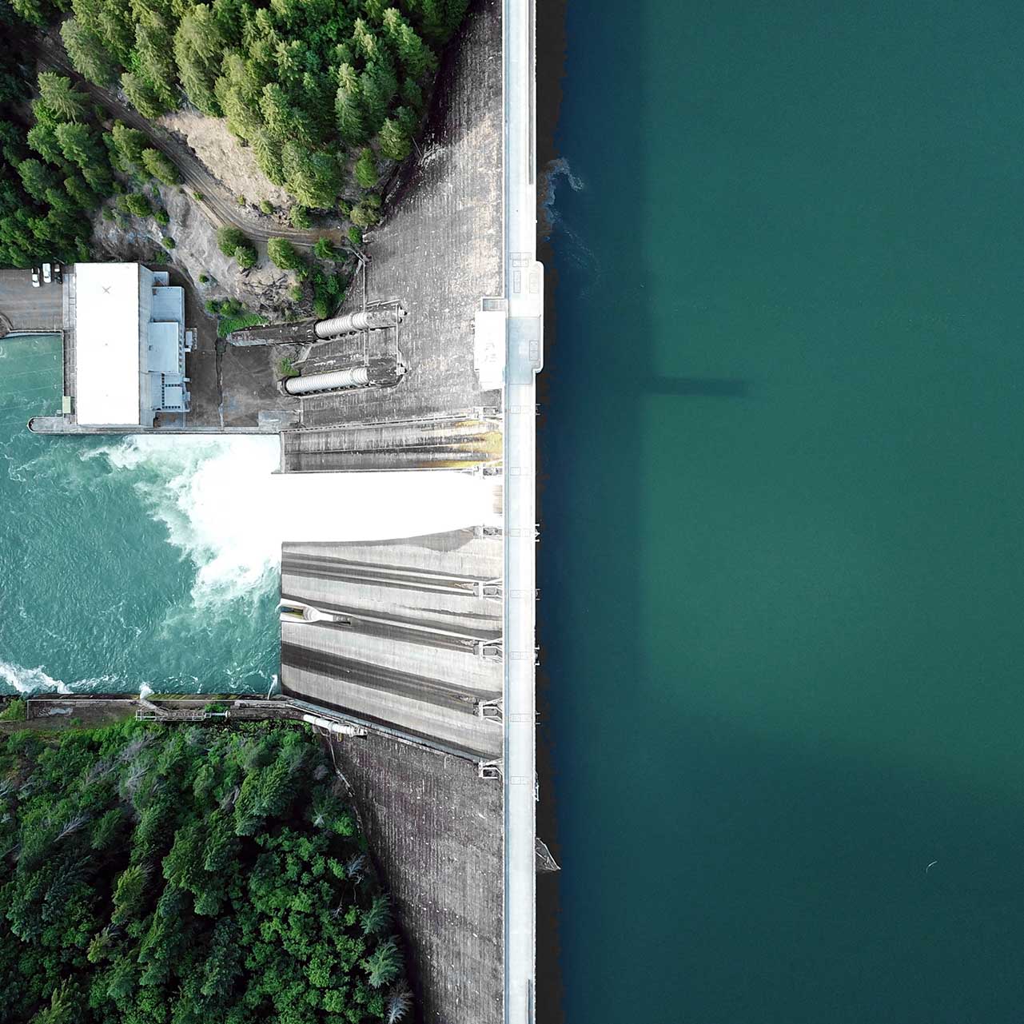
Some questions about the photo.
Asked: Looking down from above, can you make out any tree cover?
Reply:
Yes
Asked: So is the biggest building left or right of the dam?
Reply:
to the left of it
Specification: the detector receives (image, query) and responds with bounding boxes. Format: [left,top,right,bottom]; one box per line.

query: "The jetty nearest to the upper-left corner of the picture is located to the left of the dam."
[28,416,62,432]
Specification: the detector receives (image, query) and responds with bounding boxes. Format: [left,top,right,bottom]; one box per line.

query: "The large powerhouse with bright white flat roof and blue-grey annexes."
[63,264,197,429]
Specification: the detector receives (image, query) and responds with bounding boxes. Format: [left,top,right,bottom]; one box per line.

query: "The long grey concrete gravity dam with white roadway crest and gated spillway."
[270,0,544,1024]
